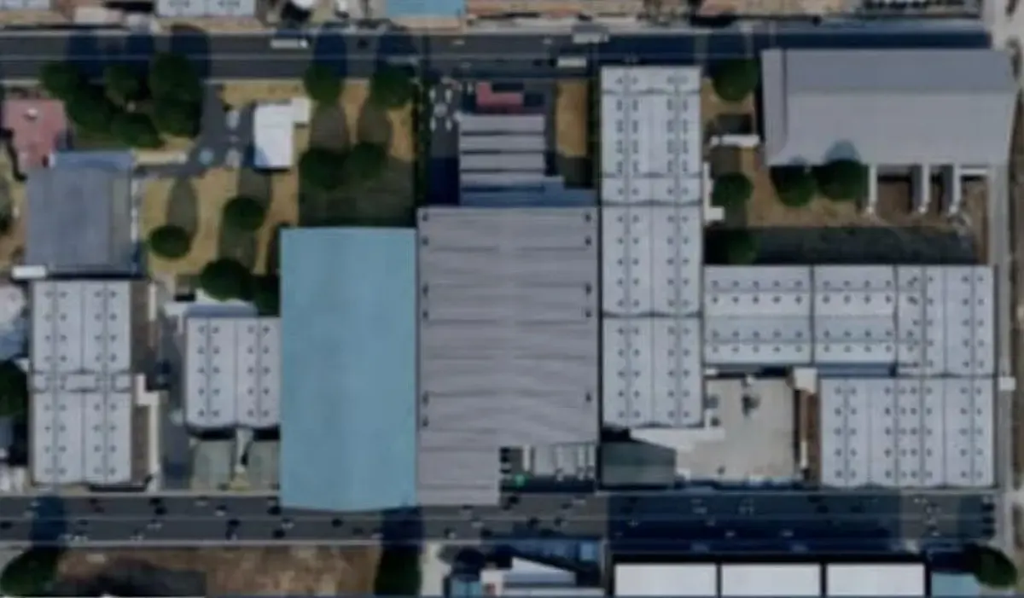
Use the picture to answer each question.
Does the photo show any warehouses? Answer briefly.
Yes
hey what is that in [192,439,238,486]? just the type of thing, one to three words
shed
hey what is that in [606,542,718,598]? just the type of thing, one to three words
building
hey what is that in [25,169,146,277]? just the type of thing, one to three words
building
